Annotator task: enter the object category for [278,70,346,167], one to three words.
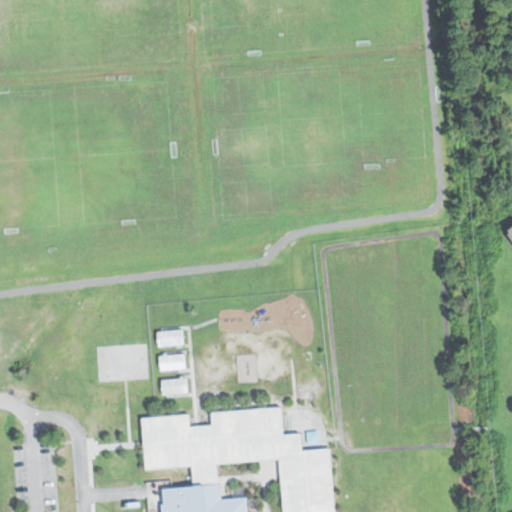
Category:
sports field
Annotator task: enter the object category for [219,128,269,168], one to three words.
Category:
sports field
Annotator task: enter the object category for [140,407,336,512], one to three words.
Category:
building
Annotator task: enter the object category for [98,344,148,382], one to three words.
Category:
basketball court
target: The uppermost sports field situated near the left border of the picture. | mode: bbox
[0,0,181,71]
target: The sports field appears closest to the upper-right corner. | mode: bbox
[359,66,426,160]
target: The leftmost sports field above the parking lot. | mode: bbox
[0,90,59,230]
